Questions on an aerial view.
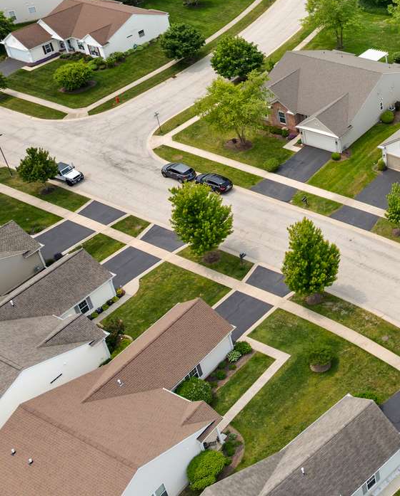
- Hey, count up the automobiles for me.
three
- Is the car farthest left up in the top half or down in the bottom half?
top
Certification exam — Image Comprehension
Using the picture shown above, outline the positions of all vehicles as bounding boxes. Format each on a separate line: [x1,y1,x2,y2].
[191,173,235,196]
[156,161,199,185]
[51,158,84,187]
